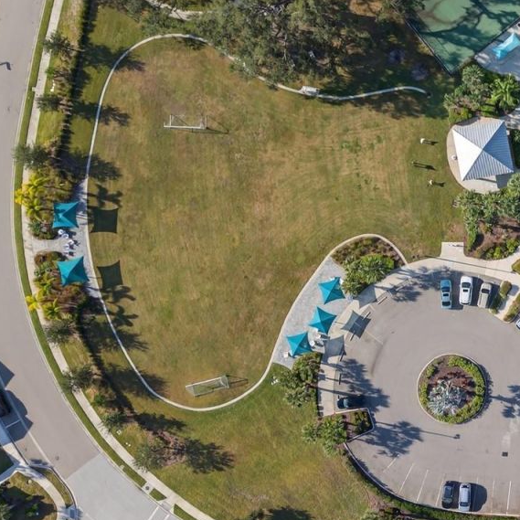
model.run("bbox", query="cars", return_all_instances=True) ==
[336,394,366,409]
[439,278,453,309]
[478,279,493,310]
[457,480,472,513]
[457,275,473,307]
[0,390,14,418]
[441,478,456,510]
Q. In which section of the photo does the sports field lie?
center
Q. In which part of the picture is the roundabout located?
bottom right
